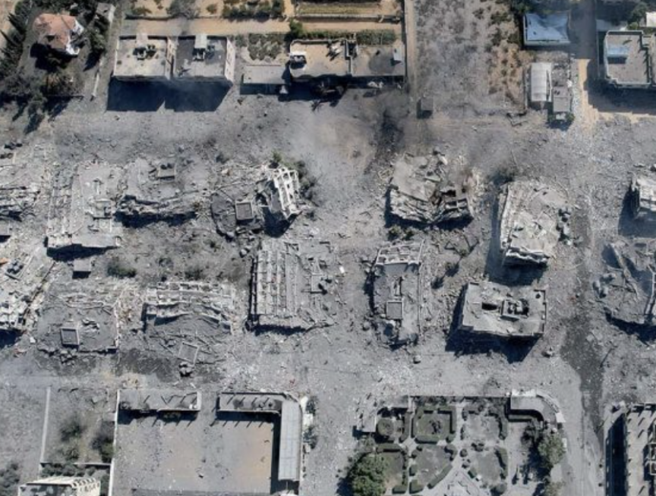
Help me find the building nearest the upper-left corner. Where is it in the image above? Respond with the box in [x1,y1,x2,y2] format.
[34,13,89,59]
